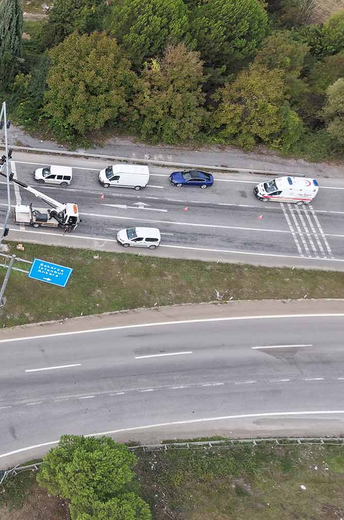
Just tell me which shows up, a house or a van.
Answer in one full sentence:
The one in the frame is a van.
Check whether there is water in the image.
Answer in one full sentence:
No, water can't be seen anywhere here.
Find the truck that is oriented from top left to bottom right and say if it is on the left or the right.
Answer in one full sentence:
The truck that is oriented from top left to bottom right sits on the left side.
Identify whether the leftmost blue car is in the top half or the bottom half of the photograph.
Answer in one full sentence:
The top half of the photo is where the leftmost blue car is.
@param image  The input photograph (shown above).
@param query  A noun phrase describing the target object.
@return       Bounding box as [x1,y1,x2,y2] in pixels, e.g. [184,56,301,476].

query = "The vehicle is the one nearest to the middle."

[116,225,163,249]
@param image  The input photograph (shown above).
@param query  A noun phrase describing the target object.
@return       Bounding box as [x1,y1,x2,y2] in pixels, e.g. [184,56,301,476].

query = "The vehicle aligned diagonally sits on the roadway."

[0,155,79,236]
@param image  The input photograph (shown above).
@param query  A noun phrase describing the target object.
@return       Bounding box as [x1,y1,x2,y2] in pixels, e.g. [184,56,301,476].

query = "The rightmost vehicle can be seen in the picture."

[253,176,319,206]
